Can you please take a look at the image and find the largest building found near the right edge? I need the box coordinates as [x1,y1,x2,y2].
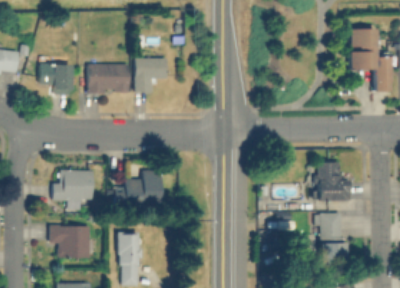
[353,28,394,92]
